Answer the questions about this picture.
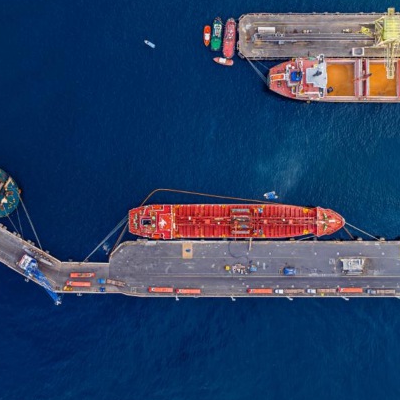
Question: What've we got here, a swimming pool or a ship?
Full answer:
Looking from above, you can make out a ship.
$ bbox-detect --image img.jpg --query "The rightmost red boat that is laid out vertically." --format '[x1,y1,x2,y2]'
[222,19,237,58]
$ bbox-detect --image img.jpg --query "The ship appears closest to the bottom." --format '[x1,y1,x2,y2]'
[129,204,345,241]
